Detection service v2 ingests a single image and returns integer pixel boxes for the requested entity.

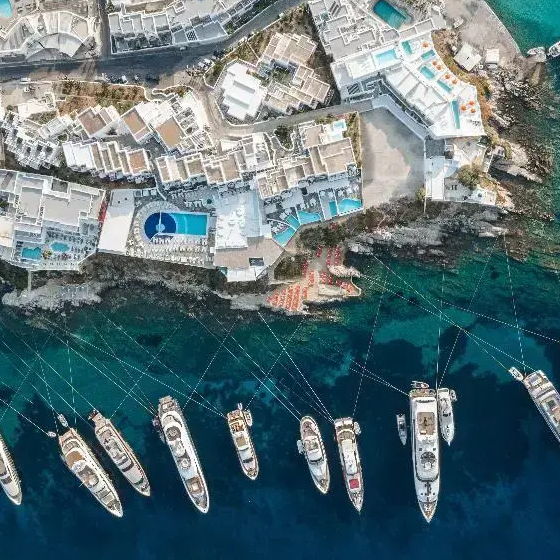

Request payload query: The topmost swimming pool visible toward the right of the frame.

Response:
[371,0,409,32]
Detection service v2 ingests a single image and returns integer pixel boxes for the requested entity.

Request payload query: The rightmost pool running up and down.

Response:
[450,99,462,130]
